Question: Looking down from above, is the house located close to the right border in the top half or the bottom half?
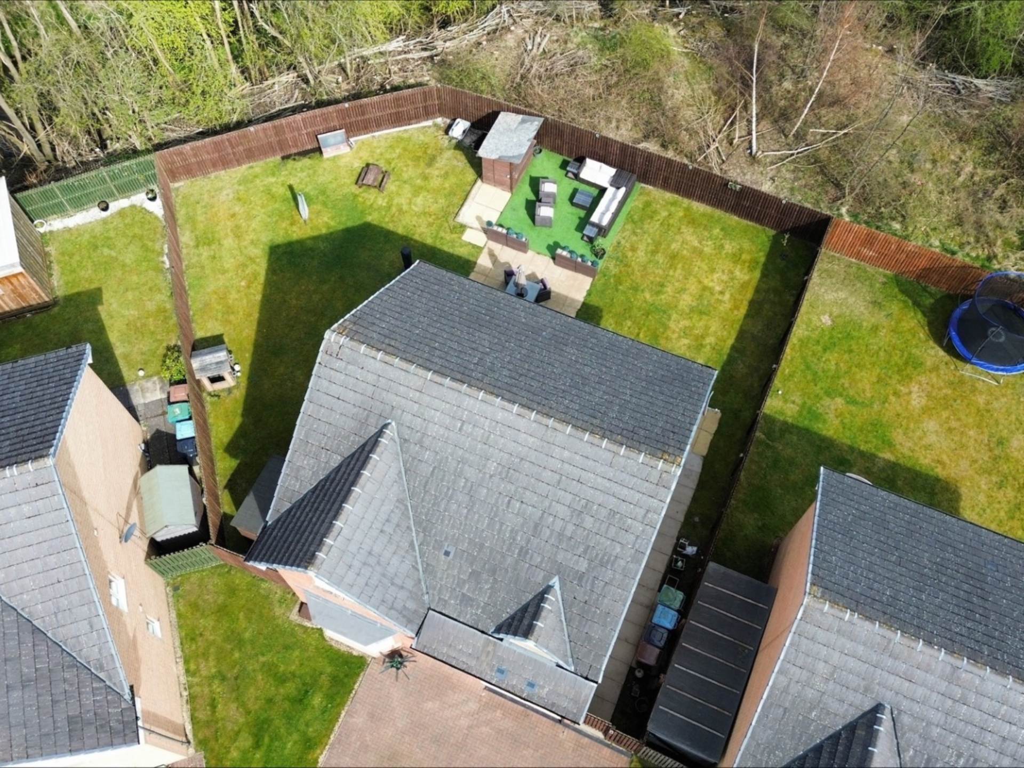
bottom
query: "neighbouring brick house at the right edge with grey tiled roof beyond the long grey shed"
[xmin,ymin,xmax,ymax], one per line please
[721,465,1024,768]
